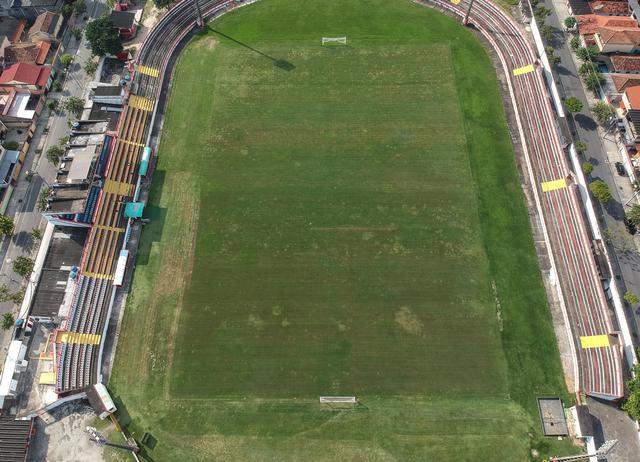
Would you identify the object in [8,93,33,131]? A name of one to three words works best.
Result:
house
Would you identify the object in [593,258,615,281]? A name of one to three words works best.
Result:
shed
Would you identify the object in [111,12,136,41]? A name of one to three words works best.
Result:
house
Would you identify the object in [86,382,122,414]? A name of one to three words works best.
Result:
building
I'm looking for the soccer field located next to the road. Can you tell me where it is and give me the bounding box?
[164,40,514,403]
